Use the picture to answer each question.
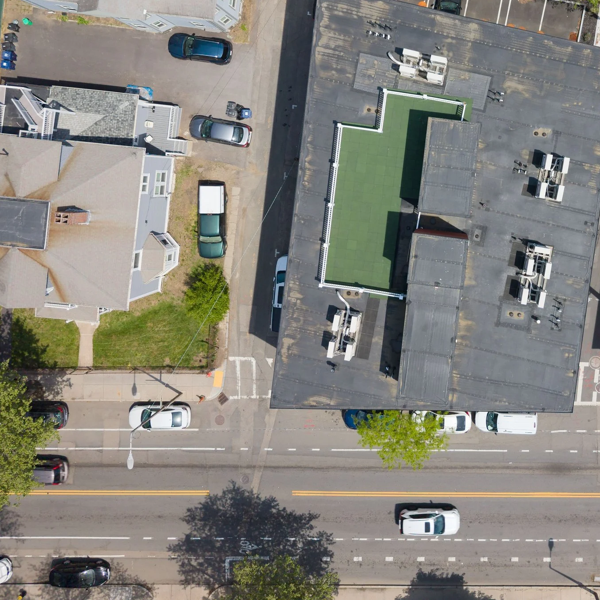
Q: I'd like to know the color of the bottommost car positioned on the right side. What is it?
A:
white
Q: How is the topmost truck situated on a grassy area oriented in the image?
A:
vertically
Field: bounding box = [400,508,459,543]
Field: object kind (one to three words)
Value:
car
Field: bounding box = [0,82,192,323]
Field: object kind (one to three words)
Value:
house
